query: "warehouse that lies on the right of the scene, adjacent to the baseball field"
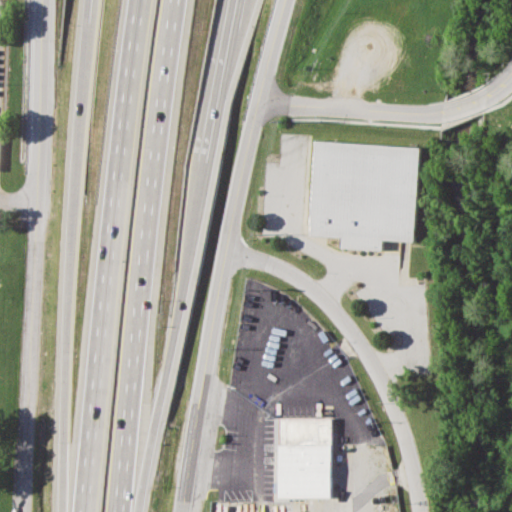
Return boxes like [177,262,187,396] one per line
[310,141,420,252]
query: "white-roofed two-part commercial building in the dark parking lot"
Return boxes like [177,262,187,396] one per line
[277,418,332,500]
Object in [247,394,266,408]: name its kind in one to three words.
vehicle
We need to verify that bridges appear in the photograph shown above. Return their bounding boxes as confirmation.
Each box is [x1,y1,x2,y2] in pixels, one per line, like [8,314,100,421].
[442,62,512,130]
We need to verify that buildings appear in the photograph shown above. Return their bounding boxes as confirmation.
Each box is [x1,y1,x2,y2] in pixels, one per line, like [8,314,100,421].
[277,418,332,500]
[310,141,420,252]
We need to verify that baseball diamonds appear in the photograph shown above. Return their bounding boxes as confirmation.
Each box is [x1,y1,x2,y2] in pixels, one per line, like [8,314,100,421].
[286,0,448,104]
